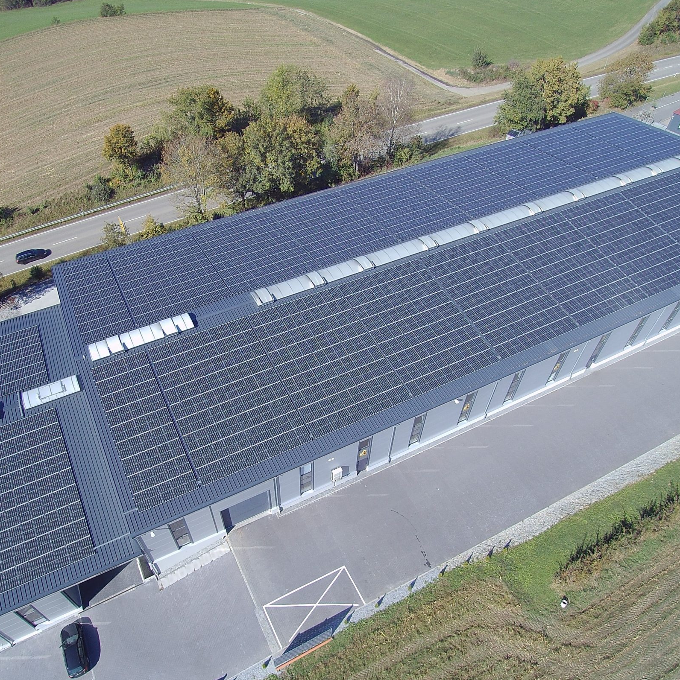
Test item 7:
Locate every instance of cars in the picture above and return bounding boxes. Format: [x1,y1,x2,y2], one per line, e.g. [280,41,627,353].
[12,247,50,266]
[58,618,88,679]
